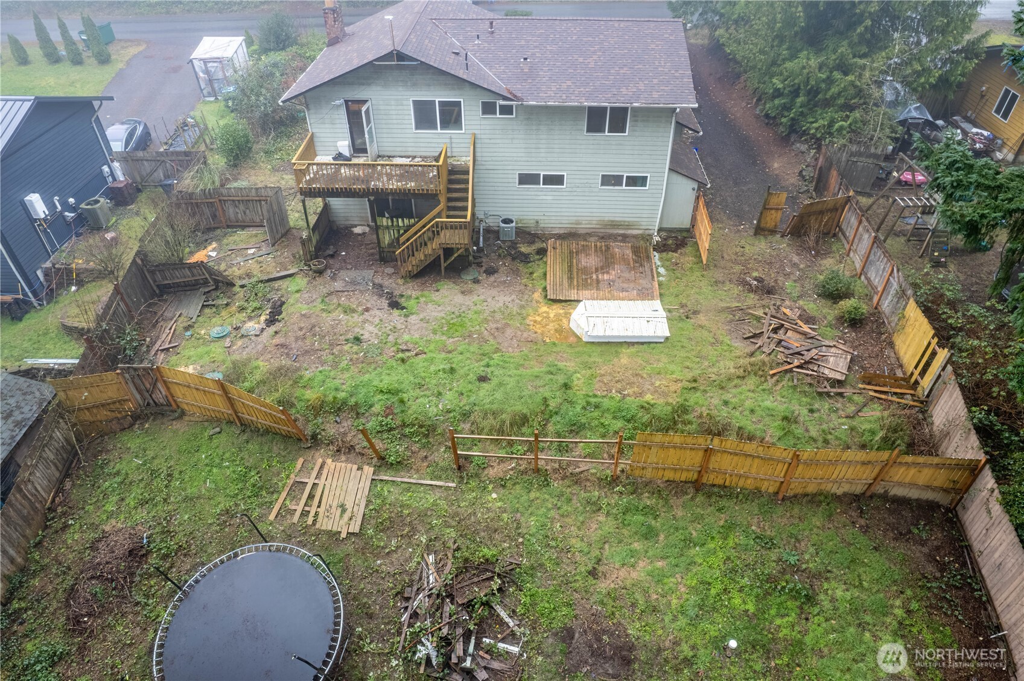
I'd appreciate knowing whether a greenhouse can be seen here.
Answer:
Yes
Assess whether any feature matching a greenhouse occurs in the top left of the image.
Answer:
Yes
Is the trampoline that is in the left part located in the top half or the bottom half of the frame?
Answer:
bottom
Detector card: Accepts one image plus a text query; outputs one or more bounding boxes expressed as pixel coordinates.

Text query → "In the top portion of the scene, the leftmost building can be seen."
[0,93,111,297]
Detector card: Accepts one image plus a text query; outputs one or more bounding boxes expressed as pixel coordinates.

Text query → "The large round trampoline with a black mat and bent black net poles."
[137,513,348,681]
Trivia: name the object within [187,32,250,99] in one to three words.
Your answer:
greenhouse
